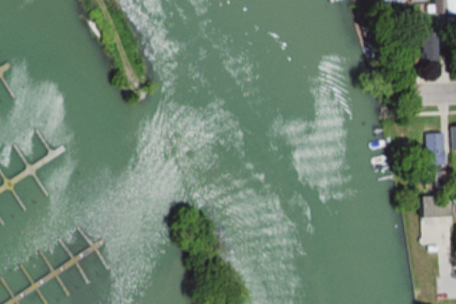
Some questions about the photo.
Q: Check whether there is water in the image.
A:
Yes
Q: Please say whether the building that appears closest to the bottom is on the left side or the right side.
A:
right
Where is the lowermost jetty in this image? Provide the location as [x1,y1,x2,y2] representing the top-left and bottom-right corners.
[0,227,110,304]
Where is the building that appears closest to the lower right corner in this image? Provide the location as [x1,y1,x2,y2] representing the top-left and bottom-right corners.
[423,196,453,218]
